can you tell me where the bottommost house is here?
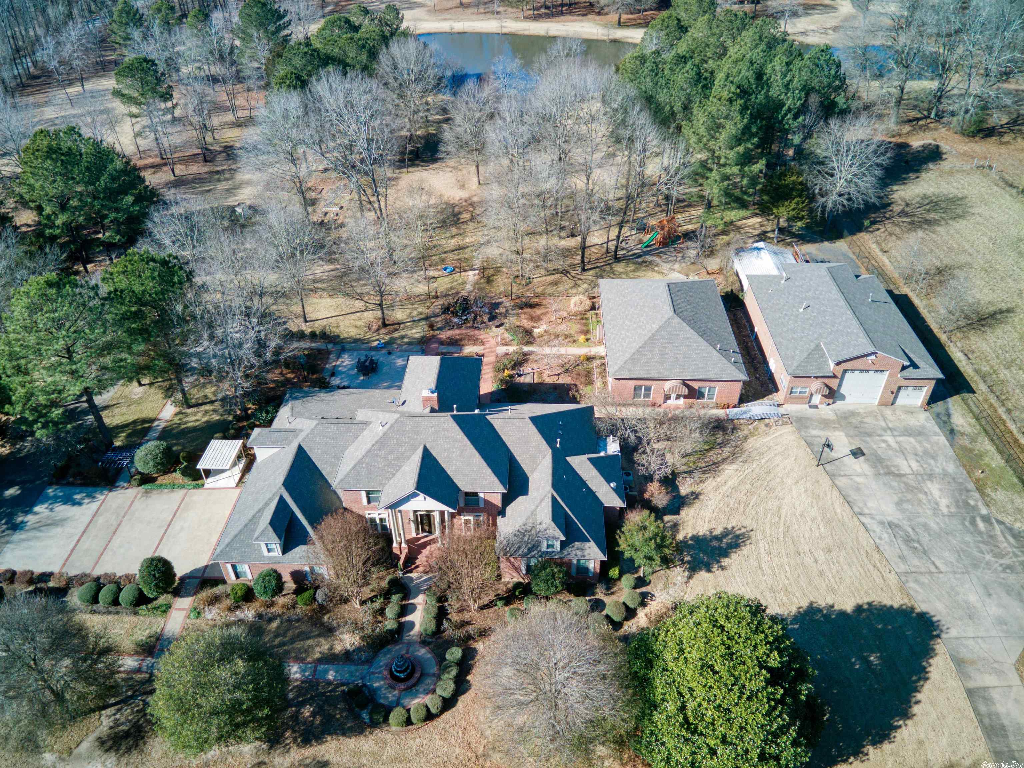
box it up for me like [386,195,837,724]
[211,355,626,586]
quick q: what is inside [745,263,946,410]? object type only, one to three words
building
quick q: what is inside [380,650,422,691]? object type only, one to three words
fountain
